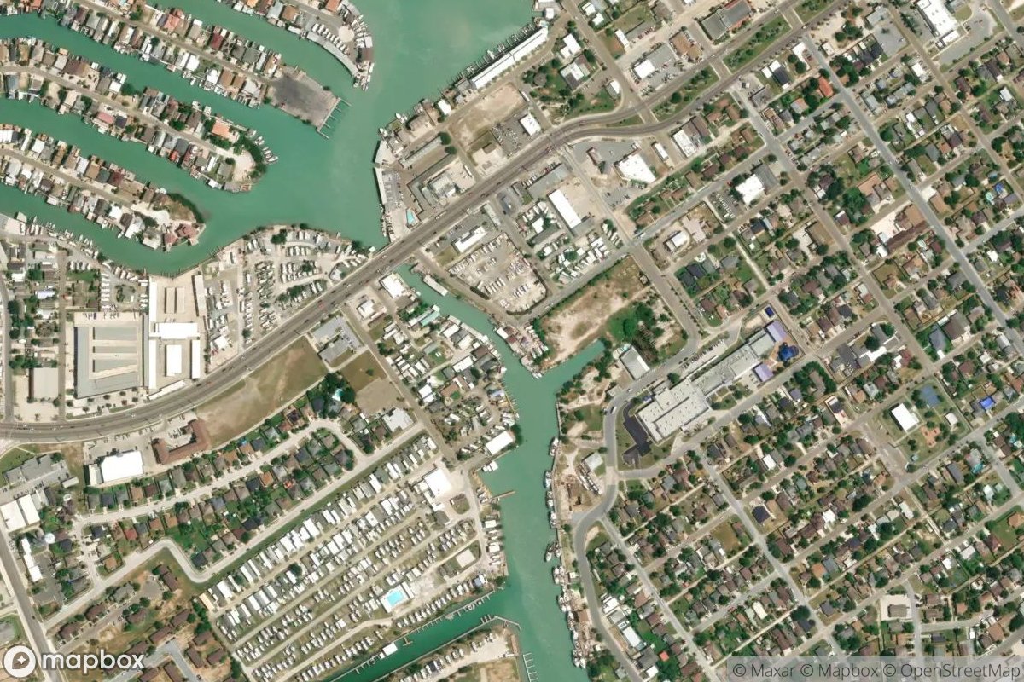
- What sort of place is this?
residential area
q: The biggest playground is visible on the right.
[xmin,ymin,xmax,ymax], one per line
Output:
[772,338,805,365]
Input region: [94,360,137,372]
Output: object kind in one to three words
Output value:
building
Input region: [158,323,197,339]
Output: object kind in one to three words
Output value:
shed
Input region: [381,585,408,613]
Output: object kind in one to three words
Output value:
swimming pool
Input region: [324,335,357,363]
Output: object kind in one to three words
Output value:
building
